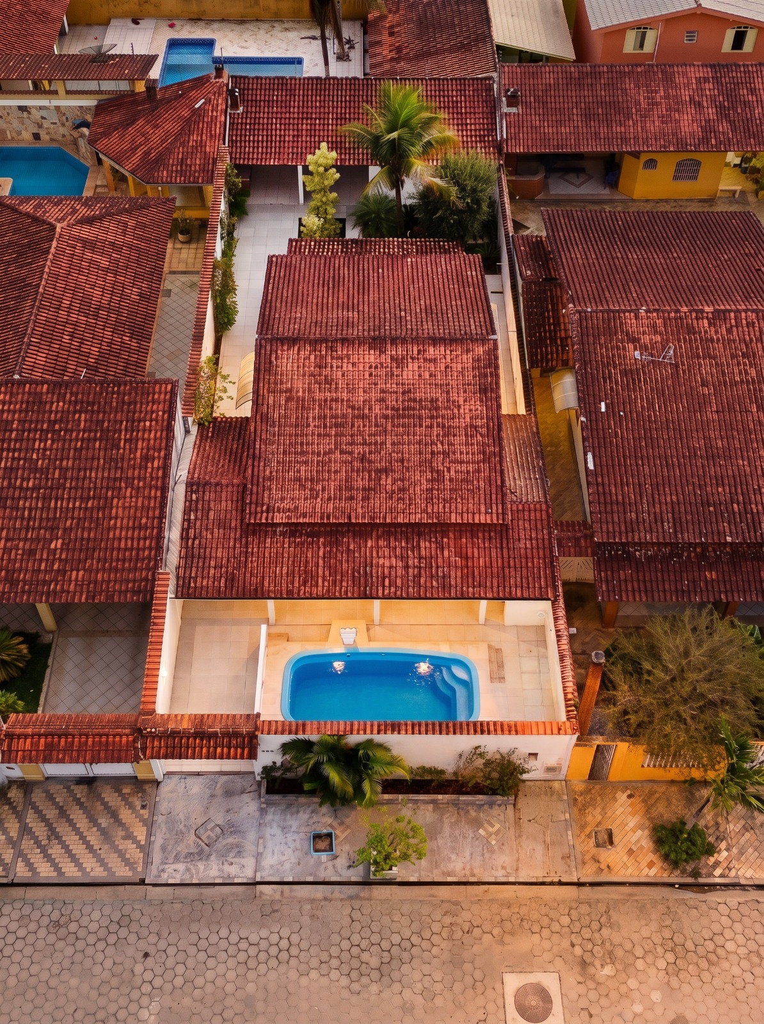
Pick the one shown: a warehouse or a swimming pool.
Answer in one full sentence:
It is a swimming pool that can be seen here.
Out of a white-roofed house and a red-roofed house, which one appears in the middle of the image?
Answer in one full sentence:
The feature located in the middle of the image is a red-roofed house.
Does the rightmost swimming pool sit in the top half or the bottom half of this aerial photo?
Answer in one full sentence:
The rightmost swimming pool sits in the bottom half of the picture.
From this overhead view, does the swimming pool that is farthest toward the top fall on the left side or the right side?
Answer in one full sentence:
It is on the left.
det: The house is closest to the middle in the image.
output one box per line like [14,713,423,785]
[176,236,557,623]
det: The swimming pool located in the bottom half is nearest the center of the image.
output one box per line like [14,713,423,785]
[281,647,481,728]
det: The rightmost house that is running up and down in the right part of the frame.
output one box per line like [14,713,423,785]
[542,206,764,636]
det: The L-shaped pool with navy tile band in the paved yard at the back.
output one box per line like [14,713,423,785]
[160,38,304,101]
